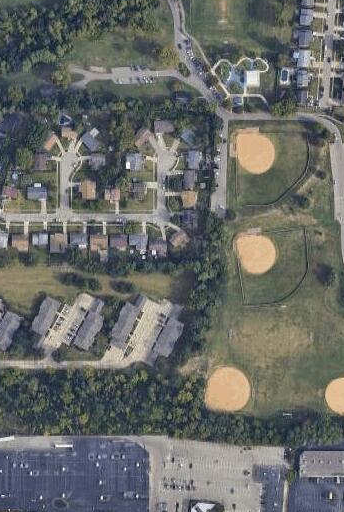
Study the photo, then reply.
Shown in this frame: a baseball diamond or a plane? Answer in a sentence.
I can see a baseball diamond in this picture.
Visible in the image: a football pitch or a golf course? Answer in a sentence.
The image shows a football pitch.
